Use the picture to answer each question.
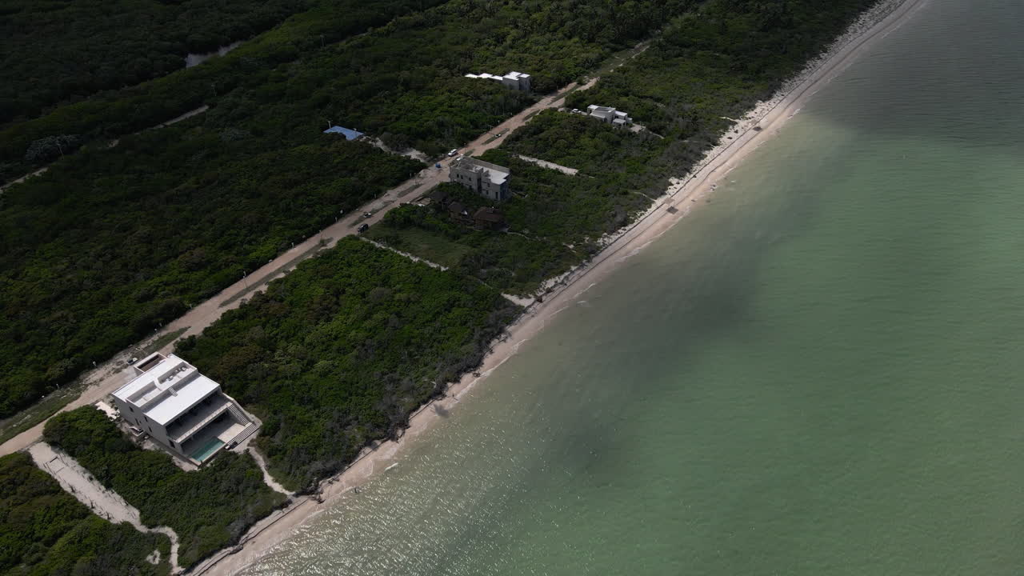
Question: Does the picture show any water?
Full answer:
Yes, some water is visible.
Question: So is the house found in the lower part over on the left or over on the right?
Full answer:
It is on the left.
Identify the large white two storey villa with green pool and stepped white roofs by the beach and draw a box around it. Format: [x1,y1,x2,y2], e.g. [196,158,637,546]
[117,354,265,466]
